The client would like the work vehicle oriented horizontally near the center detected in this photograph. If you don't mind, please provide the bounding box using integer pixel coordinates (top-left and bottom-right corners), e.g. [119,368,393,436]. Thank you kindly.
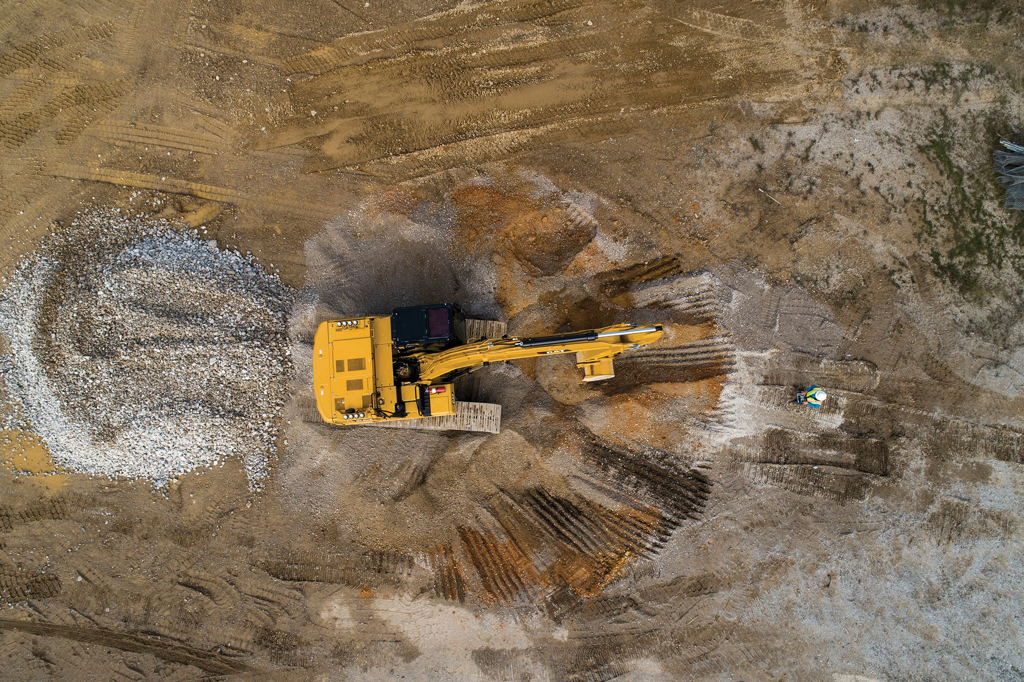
[313,299,665,435]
